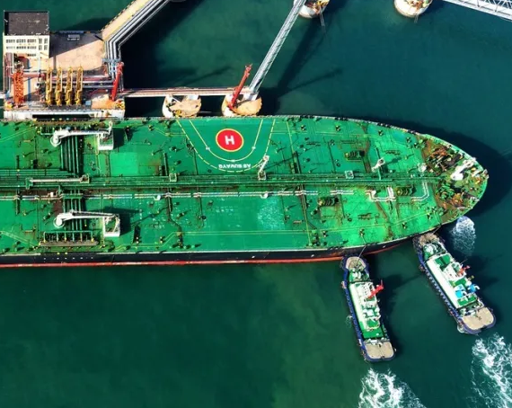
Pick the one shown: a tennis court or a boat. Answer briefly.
boat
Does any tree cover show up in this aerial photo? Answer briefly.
No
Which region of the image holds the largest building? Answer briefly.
top left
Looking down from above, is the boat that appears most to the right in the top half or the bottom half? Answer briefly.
bottom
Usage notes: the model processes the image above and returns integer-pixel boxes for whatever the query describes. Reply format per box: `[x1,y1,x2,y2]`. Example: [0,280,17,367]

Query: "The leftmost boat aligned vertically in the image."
[339,254,395,363]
